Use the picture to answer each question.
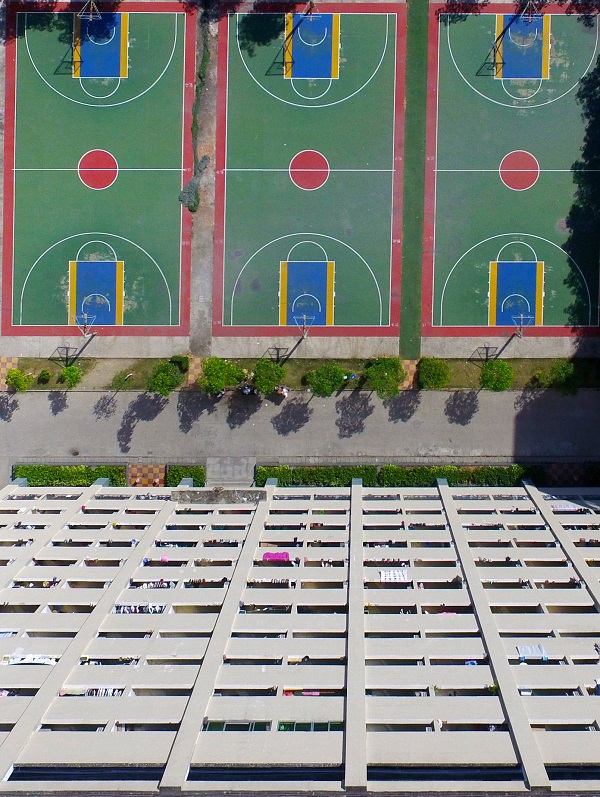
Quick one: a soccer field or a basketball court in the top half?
basketball court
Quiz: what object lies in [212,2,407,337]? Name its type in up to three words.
basketball court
